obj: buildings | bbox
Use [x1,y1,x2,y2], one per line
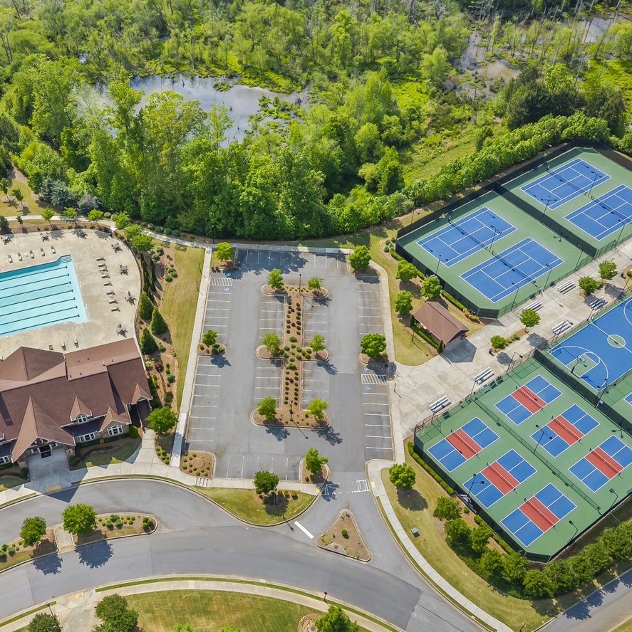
[414,302,470,352]
[0,338,154,472]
